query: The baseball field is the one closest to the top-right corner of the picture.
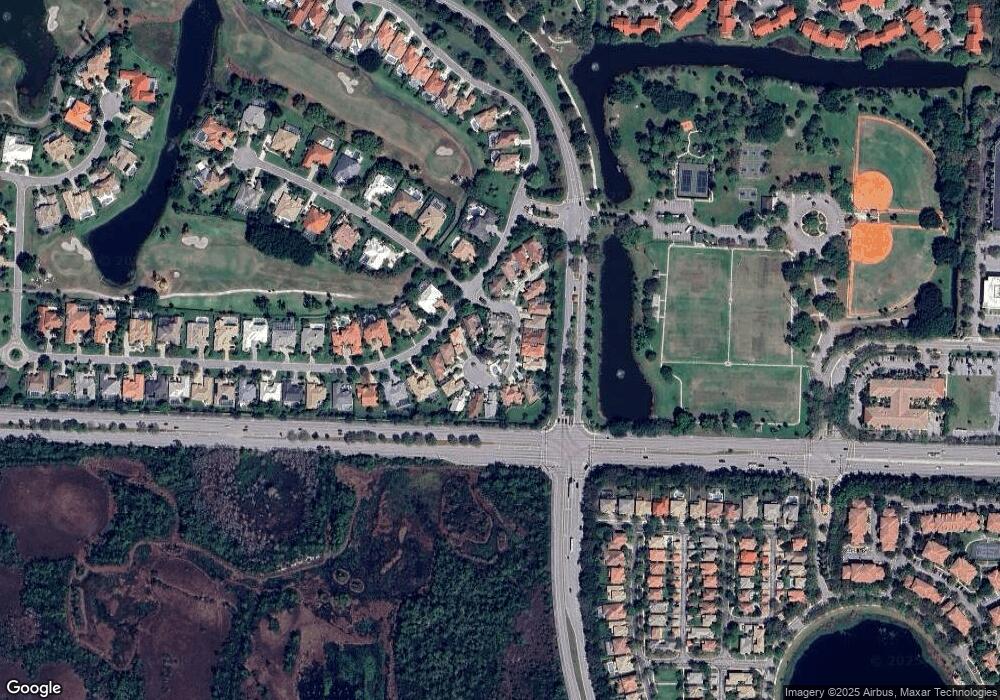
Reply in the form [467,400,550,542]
[854,112,948,233]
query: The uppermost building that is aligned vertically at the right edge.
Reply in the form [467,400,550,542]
[967,3,983,54]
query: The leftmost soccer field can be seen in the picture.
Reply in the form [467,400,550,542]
[663,249,730,361]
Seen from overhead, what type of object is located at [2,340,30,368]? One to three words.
roundabout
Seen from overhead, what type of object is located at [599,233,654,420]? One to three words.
pond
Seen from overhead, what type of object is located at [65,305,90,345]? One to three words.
house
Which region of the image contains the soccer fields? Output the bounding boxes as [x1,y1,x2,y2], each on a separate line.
[730,251,790,364]
[684,366,801,423]
[663,249,730,361]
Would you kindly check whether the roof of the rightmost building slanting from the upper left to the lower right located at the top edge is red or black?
red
